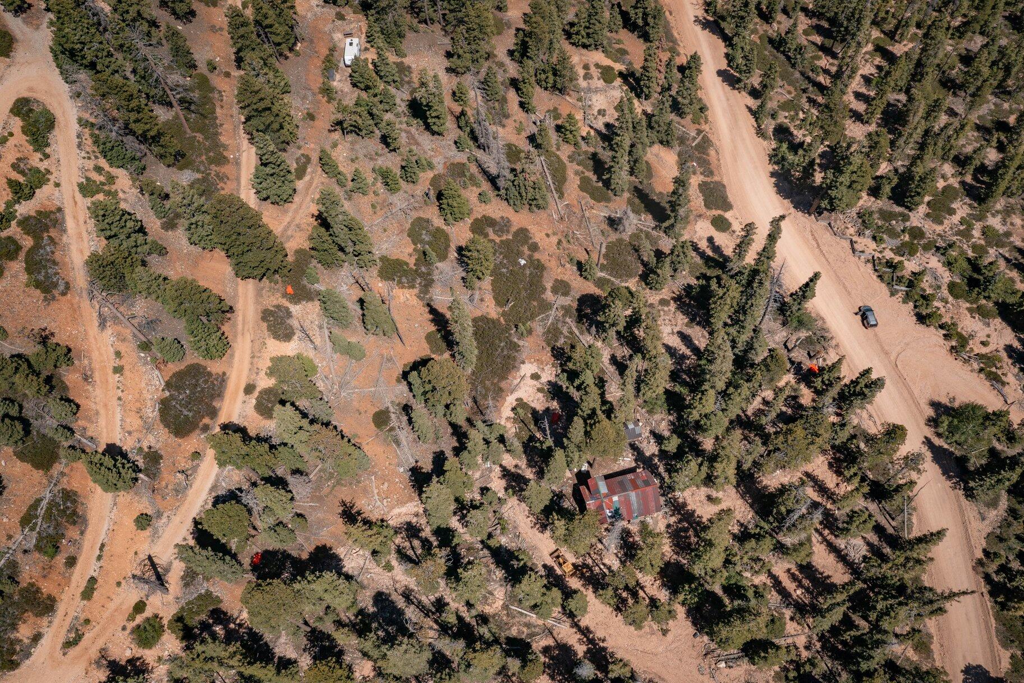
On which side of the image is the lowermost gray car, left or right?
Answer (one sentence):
The lowermost gray car sits on the right side.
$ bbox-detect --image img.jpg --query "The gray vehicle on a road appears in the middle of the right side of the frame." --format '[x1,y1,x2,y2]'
[857,305,878,330]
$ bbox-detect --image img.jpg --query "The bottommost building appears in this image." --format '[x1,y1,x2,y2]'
[580,469,661,529]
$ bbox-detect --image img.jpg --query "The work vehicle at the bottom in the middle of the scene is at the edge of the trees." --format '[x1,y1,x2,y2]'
[550,548,586,576]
